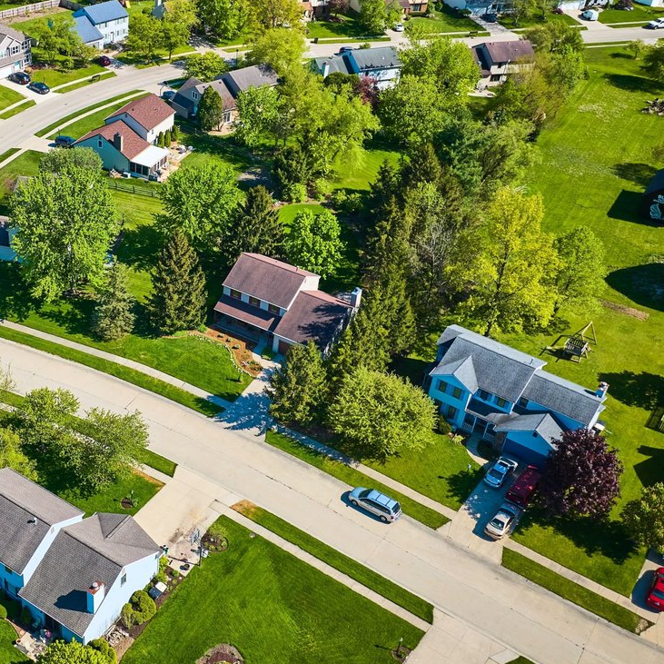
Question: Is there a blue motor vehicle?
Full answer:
Yes, you can see a blue motor vehicle in this photo.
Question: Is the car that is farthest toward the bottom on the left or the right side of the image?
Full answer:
You can find the car that is farthest toward the bottom on the right side of the picture.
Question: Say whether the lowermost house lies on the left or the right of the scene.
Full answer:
The lowermost house appears in the left half of the scene.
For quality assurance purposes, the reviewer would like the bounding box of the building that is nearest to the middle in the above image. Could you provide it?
[212,253,363,370]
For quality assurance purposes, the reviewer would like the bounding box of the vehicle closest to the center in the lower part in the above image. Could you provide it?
[347,487,403,522]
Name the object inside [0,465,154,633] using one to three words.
house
